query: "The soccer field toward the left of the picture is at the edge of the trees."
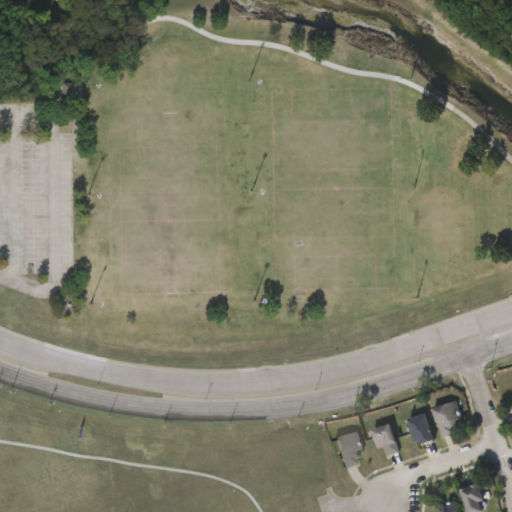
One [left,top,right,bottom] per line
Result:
[120,146,220,294]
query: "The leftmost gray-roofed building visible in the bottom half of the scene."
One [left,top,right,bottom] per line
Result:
[338,432,365,468]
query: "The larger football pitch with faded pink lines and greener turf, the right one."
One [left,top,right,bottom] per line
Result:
[272,88,396,290]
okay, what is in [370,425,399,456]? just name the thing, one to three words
house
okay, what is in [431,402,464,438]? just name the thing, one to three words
house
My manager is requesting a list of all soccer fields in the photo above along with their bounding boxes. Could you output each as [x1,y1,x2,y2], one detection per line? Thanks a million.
[272,88,396,290]
[120,146,220,294]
